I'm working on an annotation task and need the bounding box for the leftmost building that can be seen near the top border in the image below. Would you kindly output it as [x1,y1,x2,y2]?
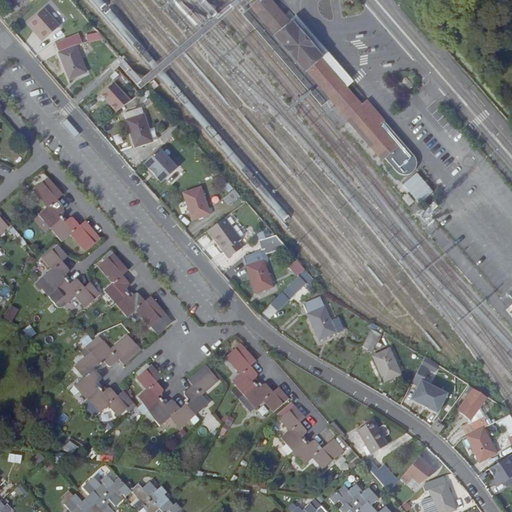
[26,4,62,41]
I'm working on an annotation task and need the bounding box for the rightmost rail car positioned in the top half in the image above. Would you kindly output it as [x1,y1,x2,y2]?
[248,176,288,220]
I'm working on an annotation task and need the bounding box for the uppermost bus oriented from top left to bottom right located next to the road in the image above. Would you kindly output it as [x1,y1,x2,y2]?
[60,116,80,138]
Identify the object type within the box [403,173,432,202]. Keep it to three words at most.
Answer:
shed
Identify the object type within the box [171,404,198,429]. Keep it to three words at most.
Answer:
house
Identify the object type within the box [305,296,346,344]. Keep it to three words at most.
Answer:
house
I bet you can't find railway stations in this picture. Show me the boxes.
[246,0,400,156]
